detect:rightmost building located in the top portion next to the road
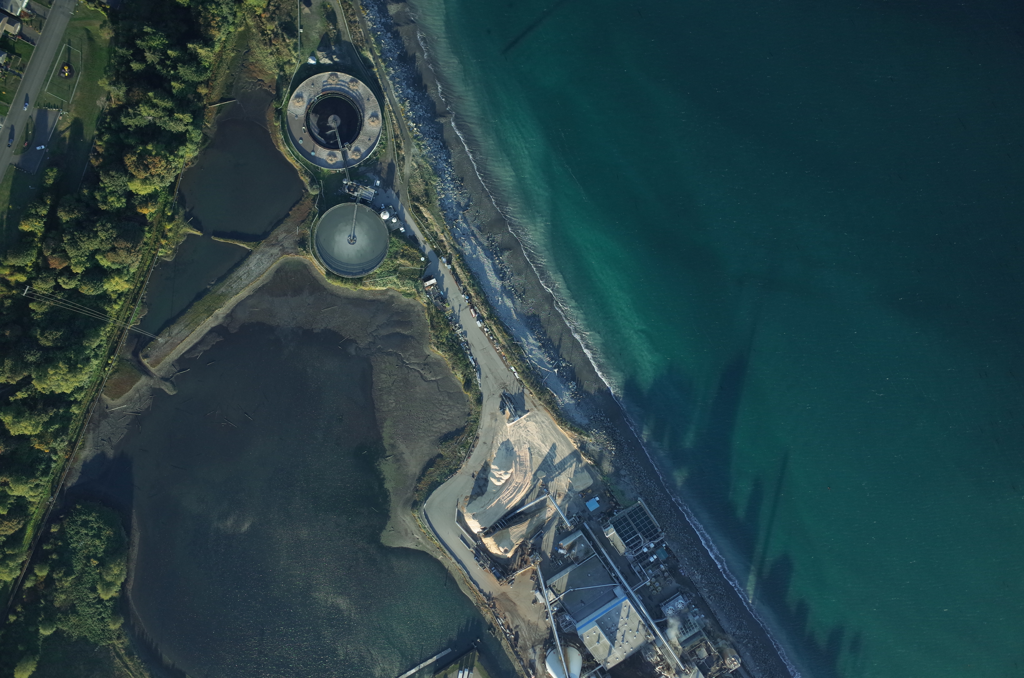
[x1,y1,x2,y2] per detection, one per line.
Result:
[345,182,376,202]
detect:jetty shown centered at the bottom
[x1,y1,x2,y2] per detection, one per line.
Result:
[391,645,452,678]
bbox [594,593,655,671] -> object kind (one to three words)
building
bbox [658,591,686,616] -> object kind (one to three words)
cooling tower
